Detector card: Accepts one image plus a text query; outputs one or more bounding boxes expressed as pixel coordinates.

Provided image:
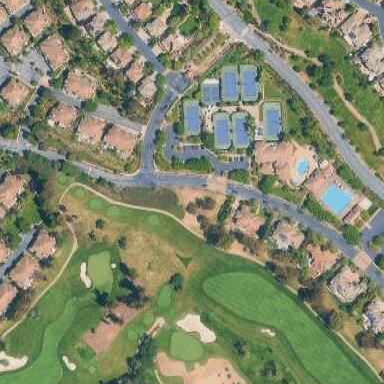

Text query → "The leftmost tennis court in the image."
[184,99,201,136]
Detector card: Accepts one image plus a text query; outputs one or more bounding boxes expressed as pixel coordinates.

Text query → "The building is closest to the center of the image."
[227,201,268,237]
